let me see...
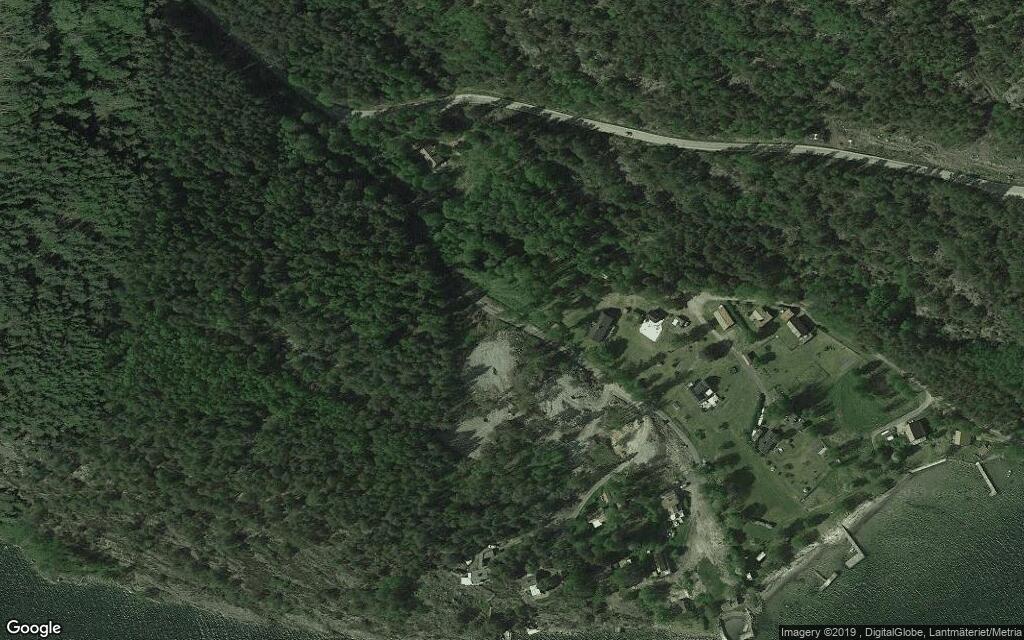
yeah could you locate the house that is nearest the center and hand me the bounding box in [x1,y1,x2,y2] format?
[590,311,615,339]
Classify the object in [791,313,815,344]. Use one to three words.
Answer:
house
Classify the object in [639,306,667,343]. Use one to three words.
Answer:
house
